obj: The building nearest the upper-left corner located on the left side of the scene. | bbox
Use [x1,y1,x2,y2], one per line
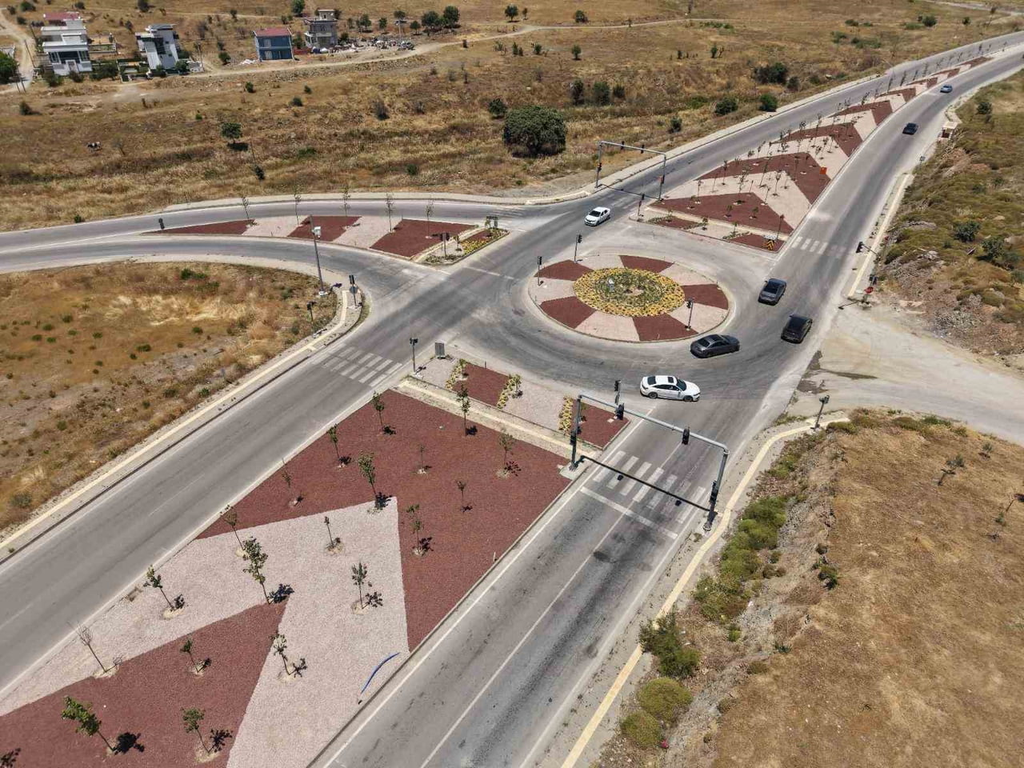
[33,16,94,77]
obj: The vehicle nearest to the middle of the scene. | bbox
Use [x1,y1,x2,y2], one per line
[643,374,701,400]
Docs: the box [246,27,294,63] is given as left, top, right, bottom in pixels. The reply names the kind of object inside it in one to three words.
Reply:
house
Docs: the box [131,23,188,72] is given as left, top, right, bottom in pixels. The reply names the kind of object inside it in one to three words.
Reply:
house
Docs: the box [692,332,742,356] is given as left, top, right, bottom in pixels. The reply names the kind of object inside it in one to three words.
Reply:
car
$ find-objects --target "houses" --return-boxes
[246,27,294,63]
[299,6,337,50]
[33,16,94,77]
[131,23,188,72]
